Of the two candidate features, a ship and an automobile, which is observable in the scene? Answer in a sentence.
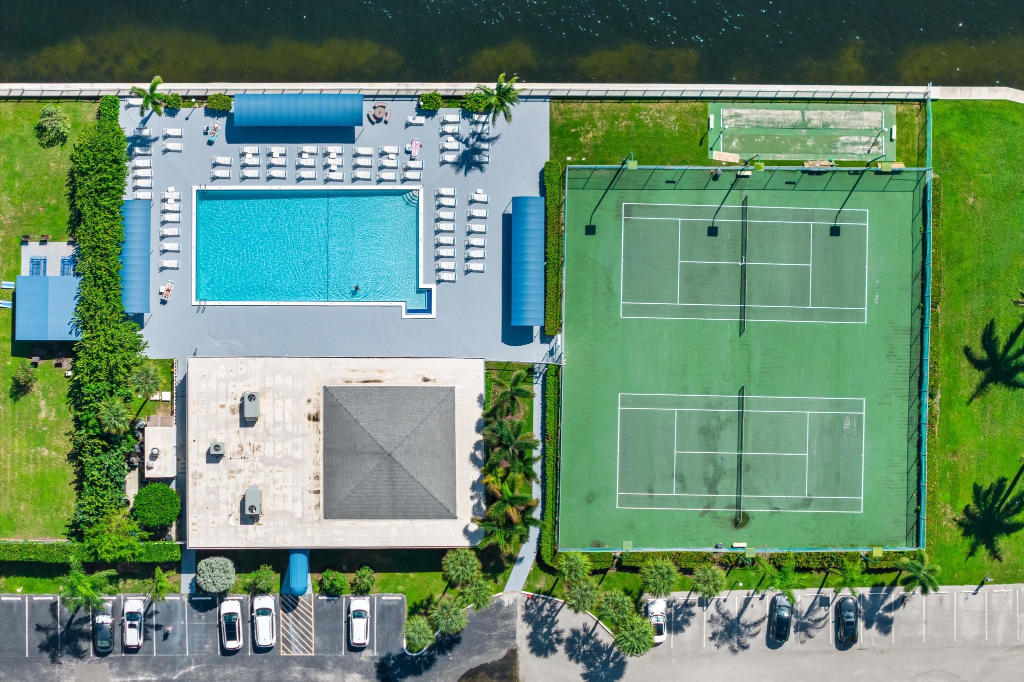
I can see an automobile in this picture.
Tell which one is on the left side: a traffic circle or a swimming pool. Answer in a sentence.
What appears on the left side is a swimming pool.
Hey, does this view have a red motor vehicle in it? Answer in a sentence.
No, there isn't any red motor vehicle down there.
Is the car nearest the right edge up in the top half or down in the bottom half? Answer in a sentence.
The car nearest the right edge is in the bottom half of the image.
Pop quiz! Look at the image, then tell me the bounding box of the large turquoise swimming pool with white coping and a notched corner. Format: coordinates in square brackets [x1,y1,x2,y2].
[191,182,436,318]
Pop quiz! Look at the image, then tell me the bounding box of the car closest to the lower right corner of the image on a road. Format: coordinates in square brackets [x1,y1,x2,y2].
[835,595,859,645]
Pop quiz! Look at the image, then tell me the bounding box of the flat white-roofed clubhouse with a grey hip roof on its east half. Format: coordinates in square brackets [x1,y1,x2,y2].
[186,356,486,549]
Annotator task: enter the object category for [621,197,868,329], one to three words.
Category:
tennis court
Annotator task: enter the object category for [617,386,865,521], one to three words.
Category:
tennis court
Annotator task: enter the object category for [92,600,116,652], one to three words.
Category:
car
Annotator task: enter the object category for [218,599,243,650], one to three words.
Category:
car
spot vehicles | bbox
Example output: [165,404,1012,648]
[218,599,243,650]
[252,594,276,647]
[121,597,145,649]
[770,593,793,643]
[347,596,371,647]
[835,595,859,645]
[646,598,669,643]
[92,600,116,652]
